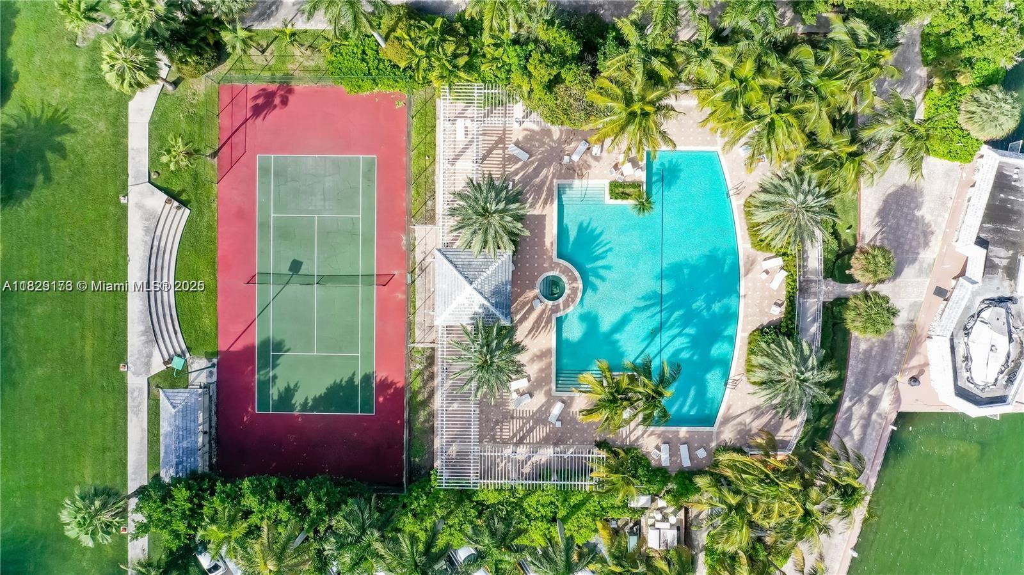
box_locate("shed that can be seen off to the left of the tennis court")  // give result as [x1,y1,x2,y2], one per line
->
[159,376,213,482]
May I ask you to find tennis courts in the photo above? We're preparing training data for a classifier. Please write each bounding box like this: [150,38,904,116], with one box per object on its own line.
[217,84,408,484]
